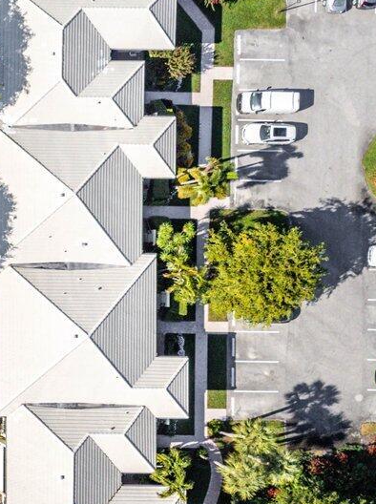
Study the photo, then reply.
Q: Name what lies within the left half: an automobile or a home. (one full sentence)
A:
What appears within the left half is a home.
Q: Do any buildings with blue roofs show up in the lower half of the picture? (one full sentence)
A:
No, the scene shows no building with a blue roof in the lower half of the picture.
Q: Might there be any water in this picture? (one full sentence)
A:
No, no water is visible.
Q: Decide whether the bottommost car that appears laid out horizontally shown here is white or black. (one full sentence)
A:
The color of the bottommost car that appears laid out horizontally is white.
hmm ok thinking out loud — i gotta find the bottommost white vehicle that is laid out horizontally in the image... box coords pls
[241,119,300,146]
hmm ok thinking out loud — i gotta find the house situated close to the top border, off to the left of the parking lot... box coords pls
[0,0,178,128]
